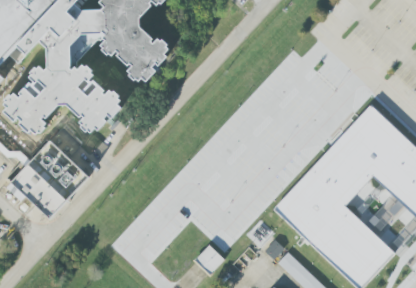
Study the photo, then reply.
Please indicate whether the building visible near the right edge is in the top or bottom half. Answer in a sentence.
You can find the building visible near the right edge in the bottom half.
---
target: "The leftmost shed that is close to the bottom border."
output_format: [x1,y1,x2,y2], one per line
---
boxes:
[194,244,225,276]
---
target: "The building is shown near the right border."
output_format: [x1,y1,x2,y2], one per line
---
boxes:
[274,106,416,288]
